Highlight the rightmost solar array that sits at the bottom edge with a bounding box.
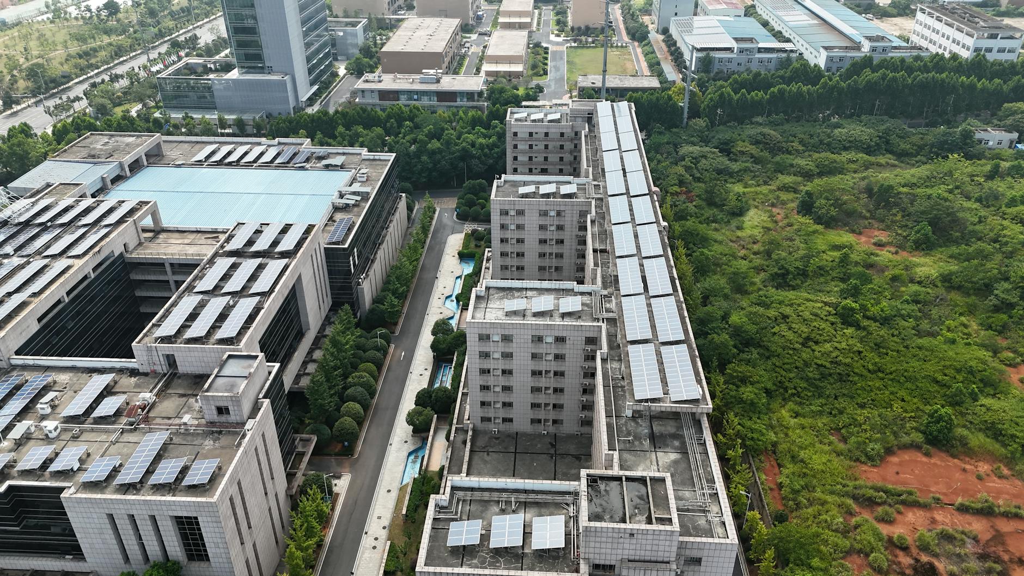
[531,515,565,559]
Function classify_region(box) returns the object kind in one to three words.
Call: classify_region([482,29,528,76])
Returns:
building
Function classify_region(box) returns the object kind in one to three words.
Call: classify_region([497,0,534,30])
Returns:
building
